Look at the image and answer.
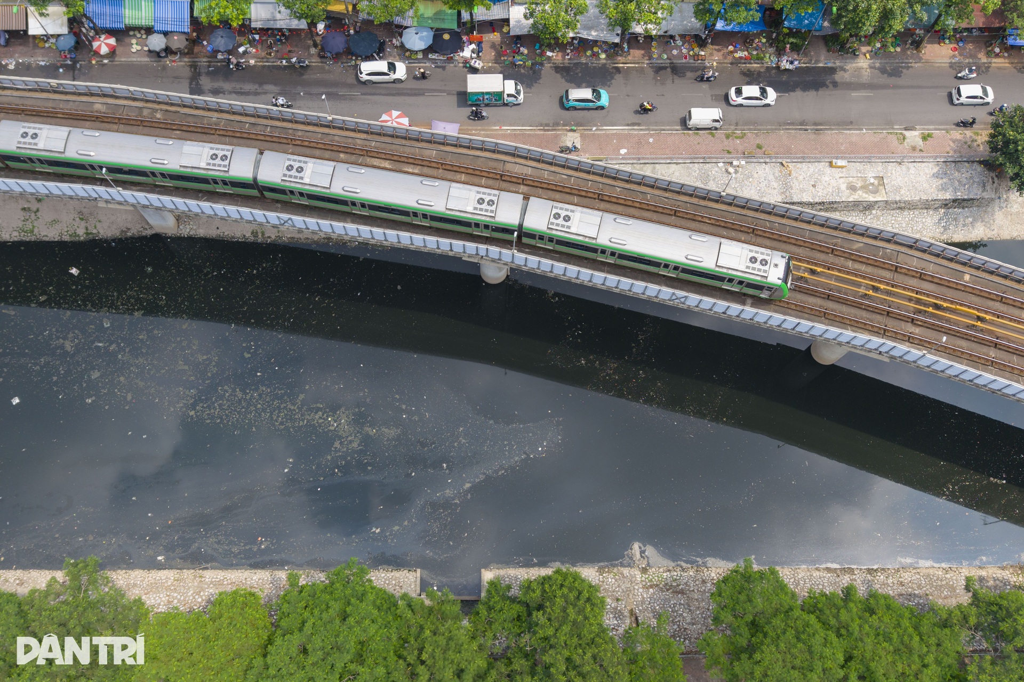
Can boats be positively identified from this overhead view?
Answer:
No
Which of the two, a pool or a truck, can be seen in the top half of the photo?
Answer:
truck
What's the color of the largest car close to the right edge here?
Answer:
white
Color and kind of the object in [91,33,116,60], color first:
white umbrella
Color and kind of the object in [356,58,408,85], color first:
white car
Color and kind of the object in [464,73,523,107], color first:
white truck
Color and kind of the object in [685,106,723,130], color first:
white vehicle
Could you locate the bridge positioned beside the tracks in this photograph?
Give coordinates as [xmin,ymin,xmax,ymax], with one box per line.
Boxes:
[0,92,1024,409]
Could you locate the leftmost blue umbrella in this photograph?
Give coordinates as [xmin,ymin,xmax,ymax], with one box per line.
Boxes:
[55,34,79,58]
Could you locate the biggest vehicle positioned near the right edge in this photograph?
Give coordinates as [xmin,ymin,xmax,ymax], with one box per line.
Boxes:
[954,82,997,106]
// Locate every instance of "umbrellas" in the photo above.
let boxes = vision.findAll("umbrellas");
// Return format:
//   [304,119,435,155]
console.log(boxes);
[55,34,79,58]
[165,33,189,58]
[379,106,409,124]
[209,29,236,57]
[91,33,116,60]
[432,29,462,58]
[402,27,433,53]
[146,34,167,58]
[431,115,460,133]
[321,32,348,59]
[348,31,380,58]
